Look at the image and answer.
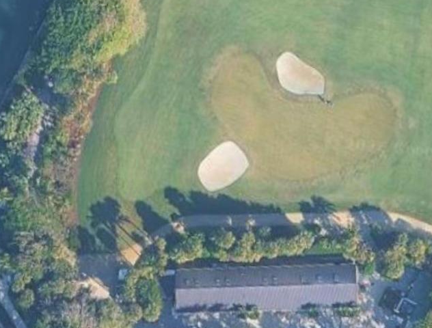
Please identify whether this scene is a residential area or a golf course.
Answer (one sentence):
This image shows a golf course.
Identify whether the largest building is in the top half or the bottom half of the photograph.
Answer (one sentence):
You can find the largest building in the bottom half.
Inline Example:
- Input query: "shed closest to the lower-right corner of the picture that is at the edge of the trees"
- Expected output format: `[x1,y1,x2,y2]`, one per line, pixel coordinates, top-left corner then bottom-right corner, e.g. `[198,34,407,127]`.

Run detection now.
[379,285,413,319]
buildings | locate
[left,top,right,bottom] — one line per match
[173,264,357,313]
[379,285,413,319]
